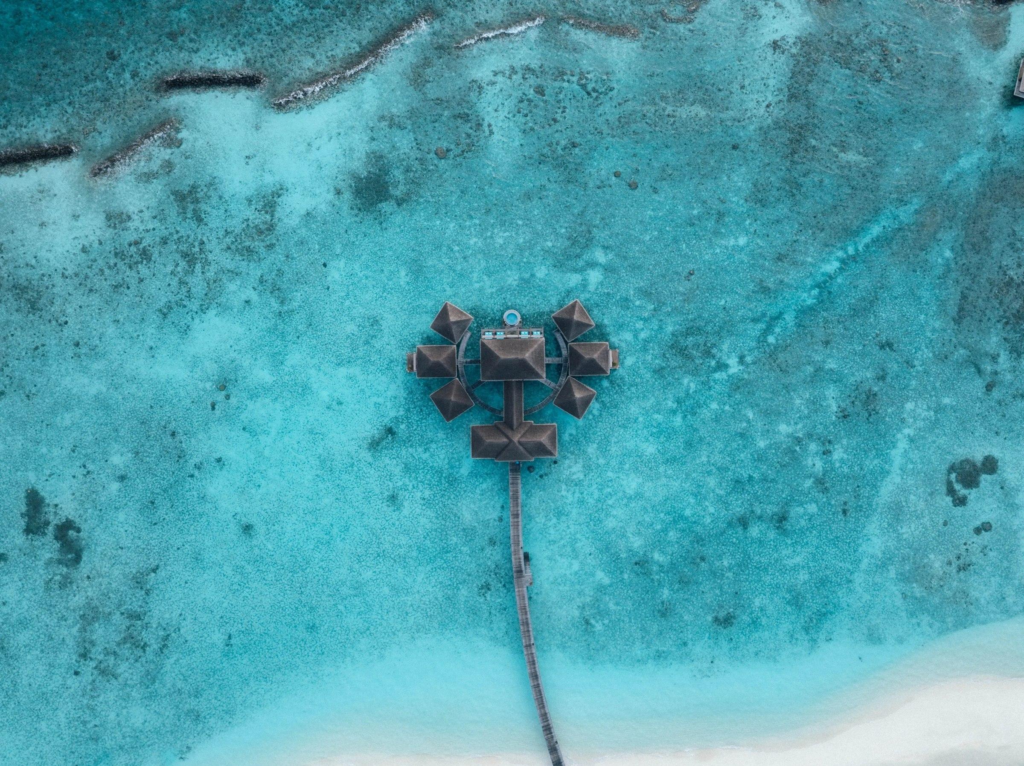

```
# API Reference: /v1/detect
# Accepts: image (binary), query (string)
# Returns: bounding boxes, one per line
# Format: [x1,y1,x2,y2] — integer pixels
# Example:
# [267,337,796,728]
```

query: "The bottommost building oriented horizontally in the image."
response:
[471,421,557,461]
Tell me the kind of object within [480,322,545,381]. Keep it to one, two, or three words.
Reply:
building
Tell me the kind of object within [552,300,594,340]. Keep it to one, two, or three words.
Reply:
shed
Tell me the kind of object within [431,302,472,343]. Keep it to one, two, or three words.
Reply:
shed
